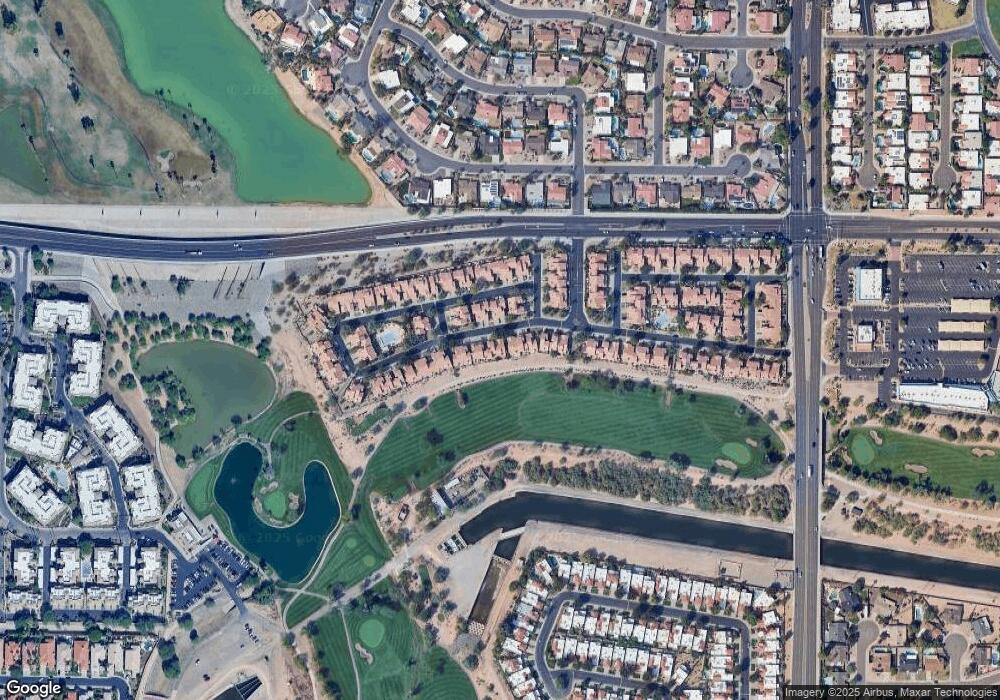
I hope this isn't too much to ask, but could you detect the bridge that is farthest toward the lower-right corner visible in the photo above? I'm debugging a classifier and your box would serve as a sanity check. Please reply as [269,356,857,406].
[793,528,820,572]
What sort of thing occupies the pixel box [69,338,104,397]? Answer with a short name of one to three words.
building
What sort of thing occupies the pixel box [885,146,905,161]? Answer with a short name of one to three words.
house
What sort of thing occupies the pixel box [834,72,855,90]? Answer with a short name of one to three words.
house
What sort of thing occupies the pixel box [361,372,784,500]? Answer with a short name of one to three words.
golf course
